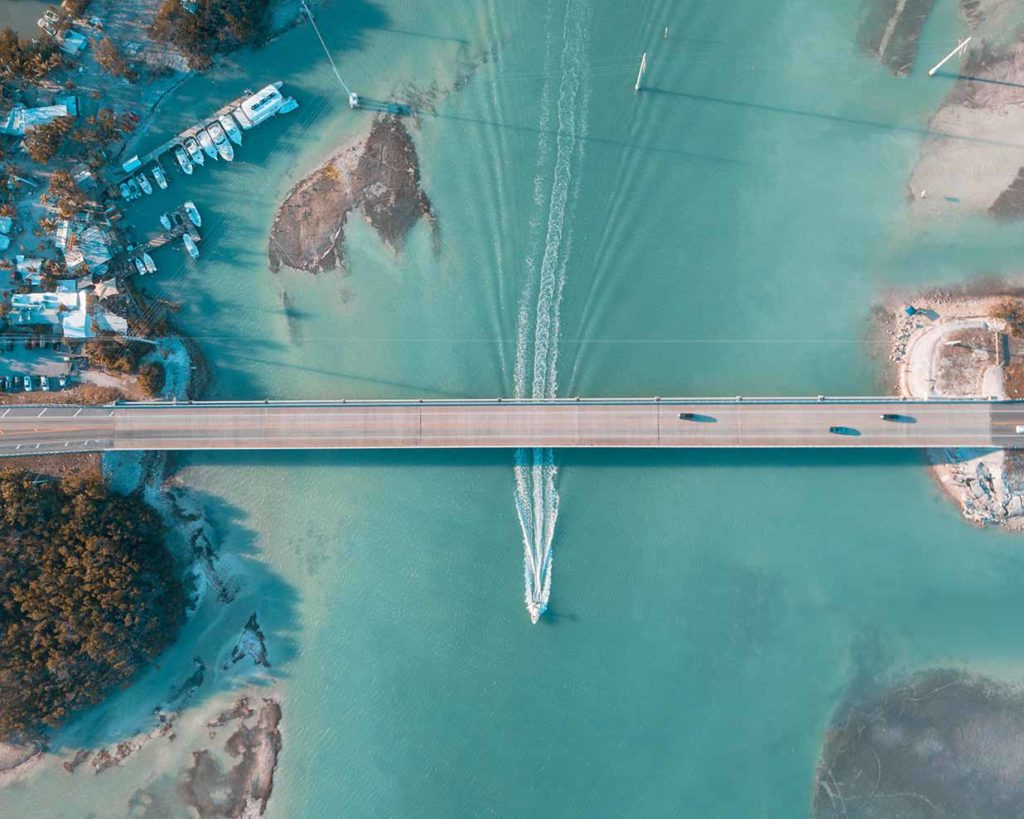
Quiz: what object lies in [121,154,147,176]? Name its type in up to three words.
shed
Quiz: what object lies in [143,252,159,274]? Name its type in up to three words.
boat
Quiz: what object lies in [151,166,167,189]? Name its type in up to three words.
boat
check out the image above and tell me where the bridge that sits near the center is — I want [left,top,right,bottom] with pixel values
[103,399,1004,451]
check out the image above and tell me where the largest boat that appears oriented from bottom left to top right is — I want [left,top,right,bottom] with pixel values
[232,89,285,133]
